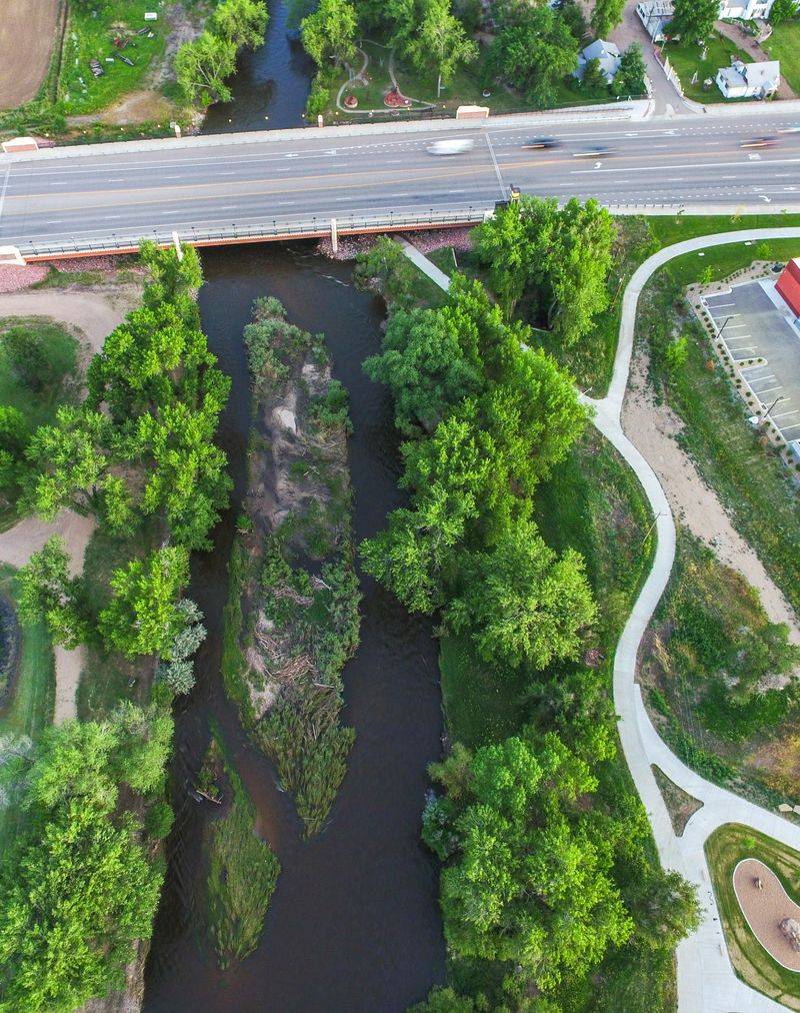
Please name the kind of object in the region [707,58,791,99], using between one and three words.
house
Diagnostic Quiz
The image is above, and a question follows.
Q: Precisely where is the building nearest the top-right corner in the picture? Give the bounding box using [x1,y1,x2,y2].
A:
[724,0,773,29]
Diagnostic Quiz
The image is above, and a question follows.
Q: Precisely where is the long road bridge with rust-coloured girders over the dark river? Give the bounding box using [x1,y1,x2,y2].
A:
[24,113,483,261]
